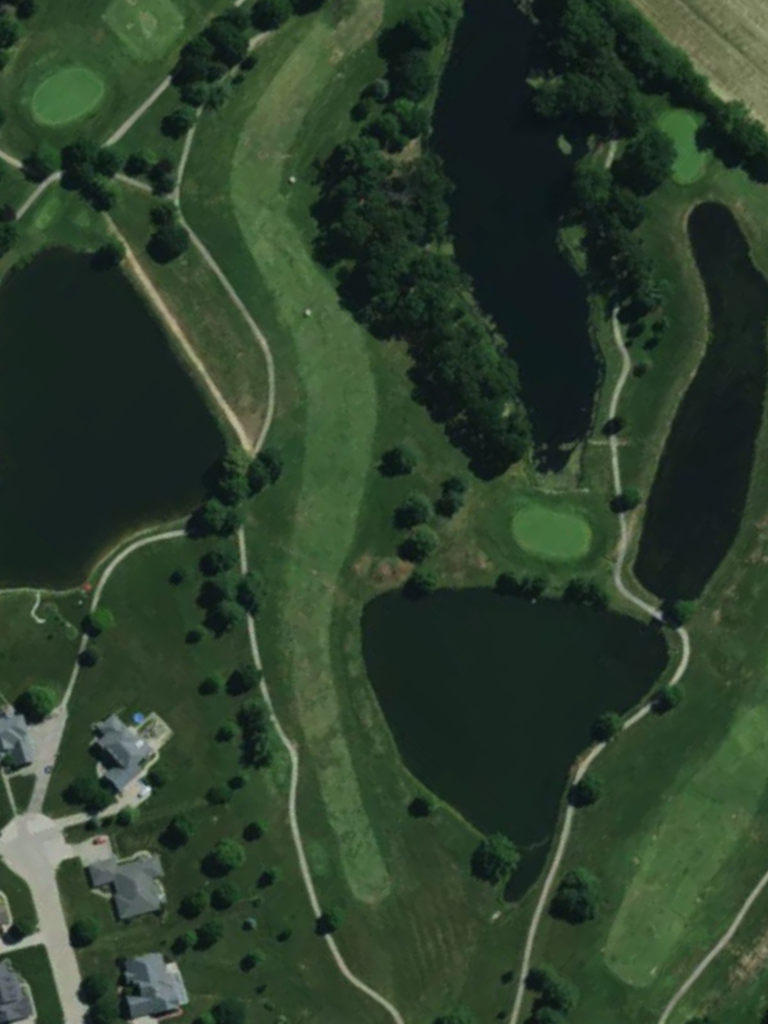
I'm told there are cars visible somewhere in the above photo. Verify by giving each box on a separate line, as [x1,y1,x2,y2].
[139,785,152,797]
[92,837,106,844]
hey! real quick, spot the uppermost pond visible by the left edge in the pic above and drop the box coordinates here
[0,248,225,593]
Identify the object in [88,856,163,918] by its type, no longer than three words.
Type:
house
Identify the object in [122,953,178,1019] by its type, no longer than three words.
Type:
house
